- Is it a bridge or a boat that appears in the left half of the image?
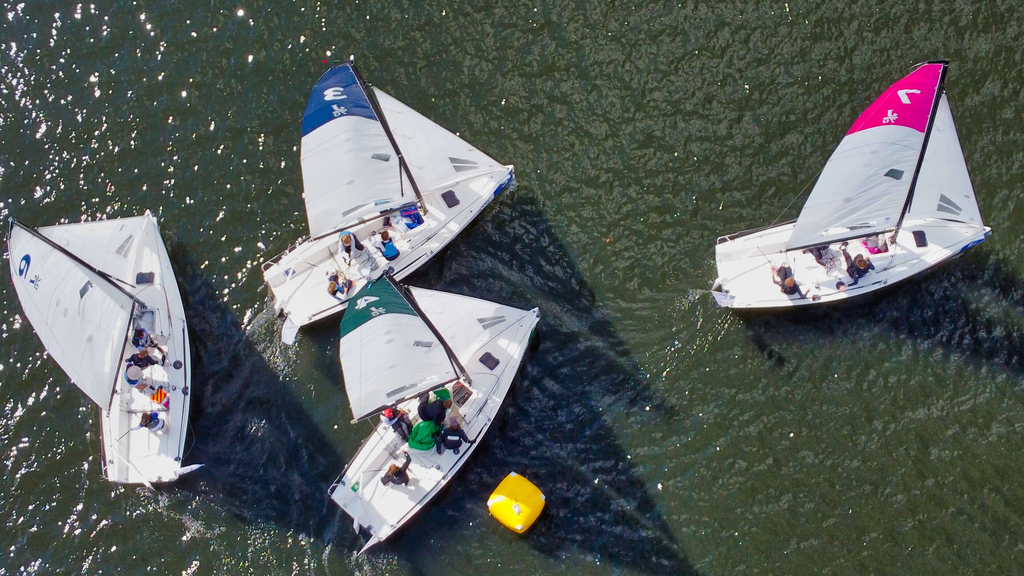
boat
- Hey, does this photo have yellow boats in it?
No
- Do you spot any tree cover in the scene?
No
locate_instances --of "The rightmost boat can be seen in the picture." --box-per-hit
[711,57,994,310]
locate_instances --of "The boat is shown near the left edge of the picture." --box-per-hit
[1,211,204,496]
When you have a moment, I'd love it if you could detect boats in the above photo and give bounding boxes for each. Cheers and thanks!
[325,267,547,557]
[263,55,520,343]
[1,211,204,496]
[711,57,994,310]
